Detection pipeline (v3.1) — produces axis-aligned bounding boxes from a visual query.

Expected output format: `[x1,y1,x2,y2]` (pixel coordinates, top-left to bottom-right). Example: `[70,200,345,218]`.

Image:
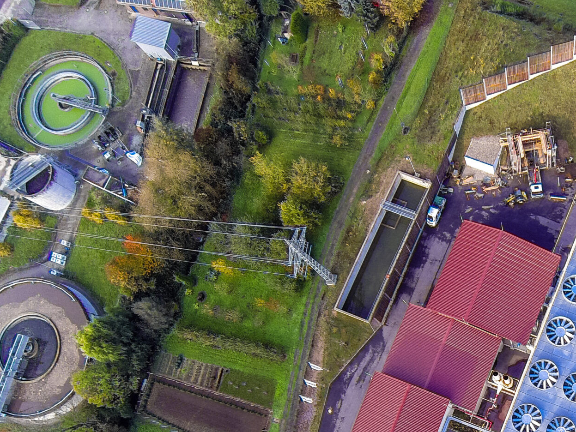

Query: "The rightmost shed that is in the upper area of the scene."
[464,140,501,172]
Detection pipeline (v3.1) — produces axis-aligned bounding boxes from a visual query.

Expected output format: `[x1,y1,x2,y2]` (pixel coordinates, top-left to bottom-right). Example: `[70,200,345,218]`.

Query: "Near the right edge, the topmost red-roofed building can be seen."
[425,216,561,348]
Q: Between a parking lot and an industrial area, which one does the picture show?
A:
industrial area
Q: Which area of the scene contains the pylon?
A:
center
